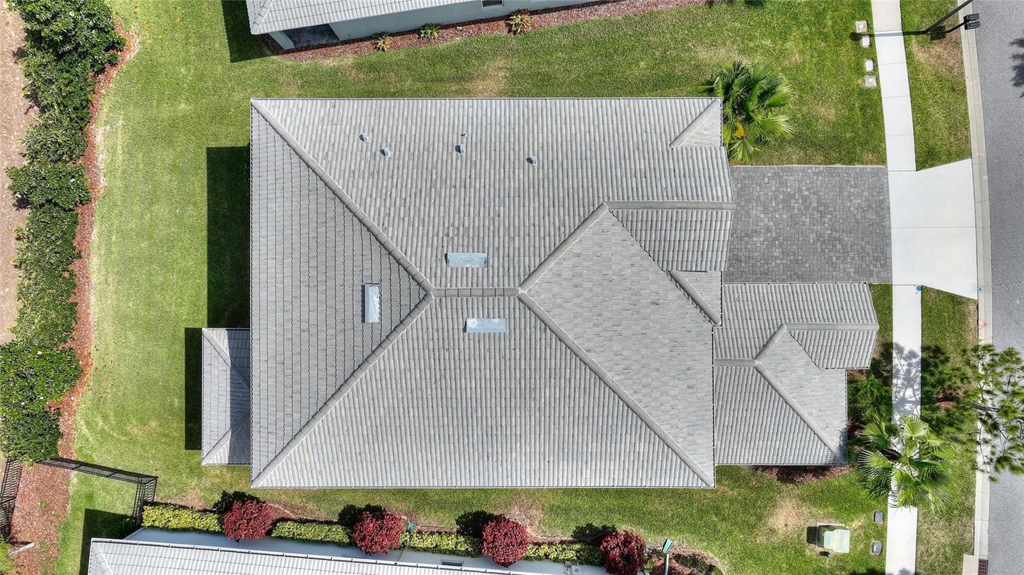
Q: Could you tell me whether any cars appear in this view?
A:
No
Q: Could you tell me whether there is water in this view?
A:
No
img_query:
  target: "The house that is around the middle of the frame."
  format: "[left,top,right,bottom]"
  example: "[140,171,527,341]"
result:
[202,97,881,488]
